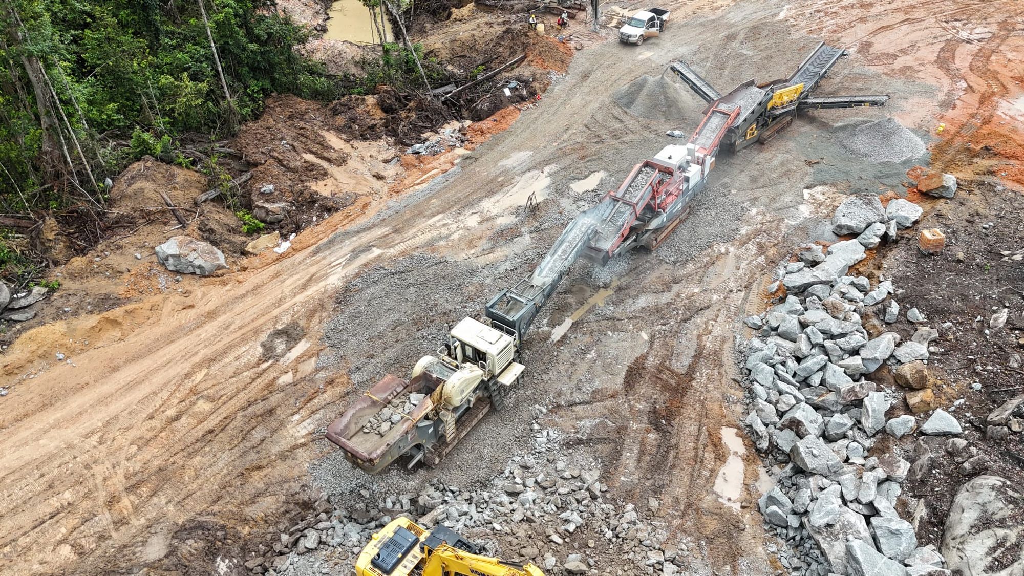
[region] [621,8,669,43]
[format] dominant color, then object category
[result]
white truck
